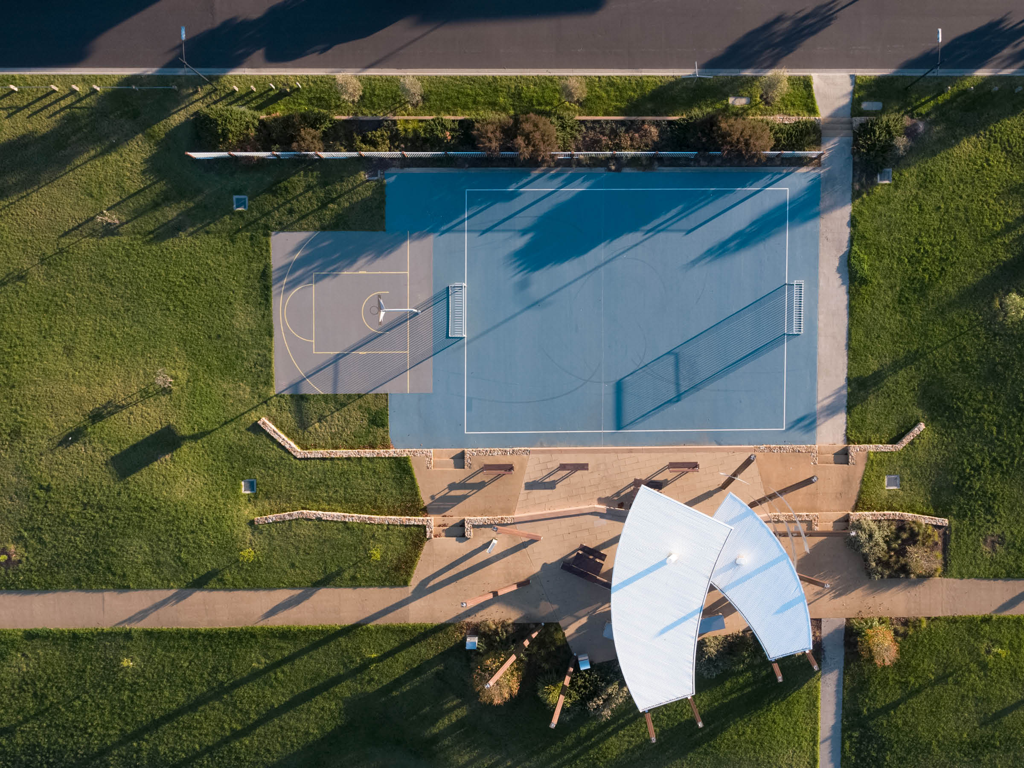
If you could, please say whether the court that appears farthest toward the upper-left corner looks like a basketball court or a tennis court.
basketball court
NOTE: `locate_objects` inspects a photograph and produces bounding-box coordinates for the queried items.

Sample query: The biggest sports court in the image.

[385,172,820,448]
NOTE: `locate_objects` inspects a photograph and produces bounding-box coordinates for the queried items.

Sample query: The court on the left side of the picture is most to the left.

[271,231,433,393]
